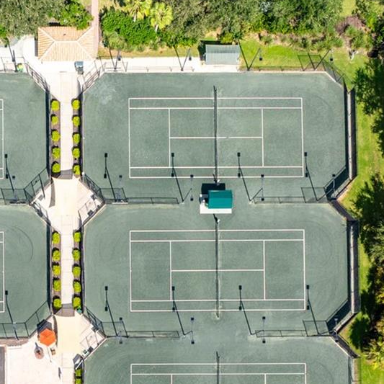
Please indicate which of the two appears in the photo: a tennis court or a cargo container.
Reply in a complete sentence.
Looking from above, you can make out a tennis court.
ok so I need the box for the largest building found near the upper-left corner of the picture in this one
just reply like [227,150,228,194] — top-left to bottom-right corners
[37,27,98,65]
